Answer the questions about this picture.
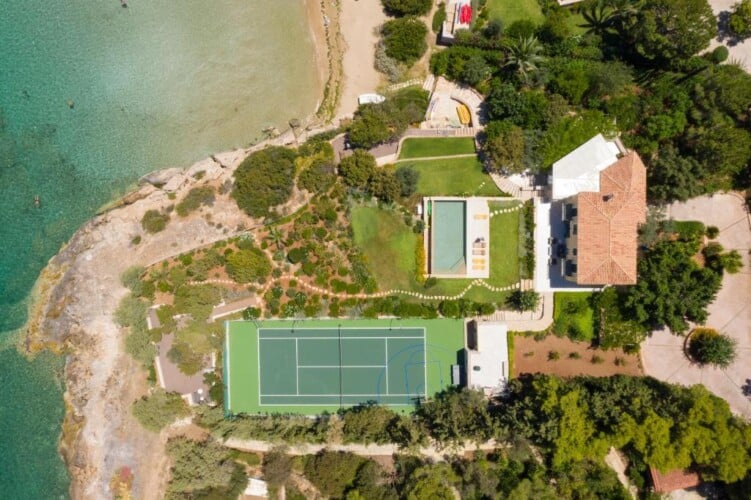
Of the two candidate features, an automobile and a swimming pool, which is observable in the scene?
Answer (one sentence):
The one in the frame is a swimming pool.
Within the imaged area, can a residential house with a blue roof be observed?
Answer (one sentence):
No, no residential house with a blue roof is visible in the view.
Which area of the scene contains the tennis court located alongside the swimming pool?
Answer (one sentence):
The tennis court located alongside the swimming pool is in the bottom part of the image.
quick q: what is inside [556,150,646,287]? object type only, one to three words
house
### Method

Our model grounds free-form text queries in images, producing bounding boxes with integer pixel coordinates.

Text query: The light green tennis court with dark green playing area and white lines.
[230,320,466,415]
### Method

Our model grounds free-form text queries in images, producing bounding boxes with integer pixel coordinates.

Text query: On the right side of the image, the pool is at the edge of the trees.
[423,194,511,278]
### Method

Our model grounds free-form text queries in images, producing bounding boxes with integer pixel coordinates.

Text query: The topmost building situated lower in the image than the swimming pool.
[463,316,508,391]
